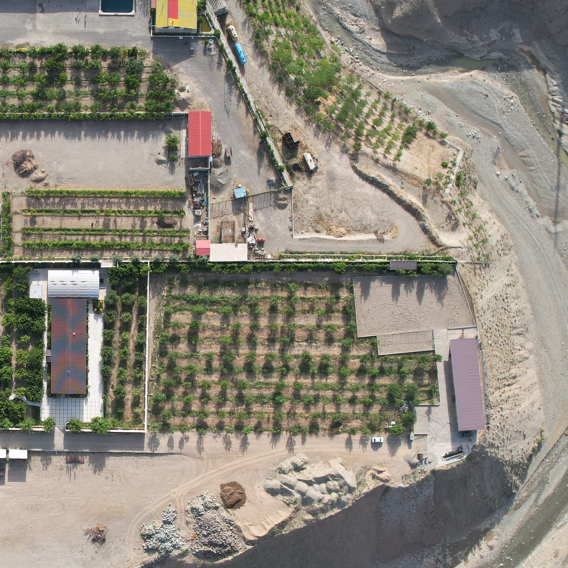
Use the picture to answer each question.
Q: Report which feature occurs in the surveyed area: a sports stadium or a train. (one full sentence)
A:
Visible in the photo is a sports stadium.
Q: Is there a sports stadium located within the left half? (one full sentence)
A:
No, looking within the left half, there is no sports stadium.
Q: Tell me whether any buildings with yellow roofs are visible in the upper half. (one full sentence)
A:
Yes, the scene does show a building with a yellow roof in the upper half.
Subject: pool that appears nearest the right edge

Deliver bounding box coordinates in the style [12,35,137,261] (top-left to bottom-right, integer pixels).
[199,12,212,33]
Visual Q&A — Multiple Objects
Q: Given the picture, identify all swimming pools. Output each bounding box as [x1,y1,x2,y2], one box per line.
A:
[99,0,135,16]
[199,12,212,33]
